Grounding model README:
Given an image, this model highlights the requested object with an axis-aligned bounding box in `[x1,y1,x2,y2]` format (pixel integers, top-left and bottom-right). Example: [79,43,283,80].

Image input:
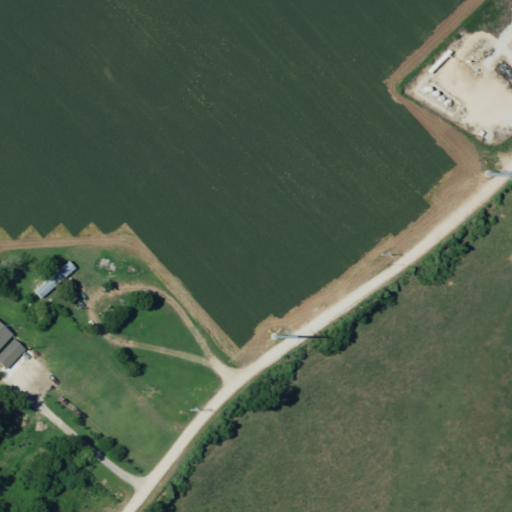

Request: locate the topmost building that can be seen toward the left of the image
[34,260,76,298]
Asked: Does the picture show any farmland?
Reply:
Yes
